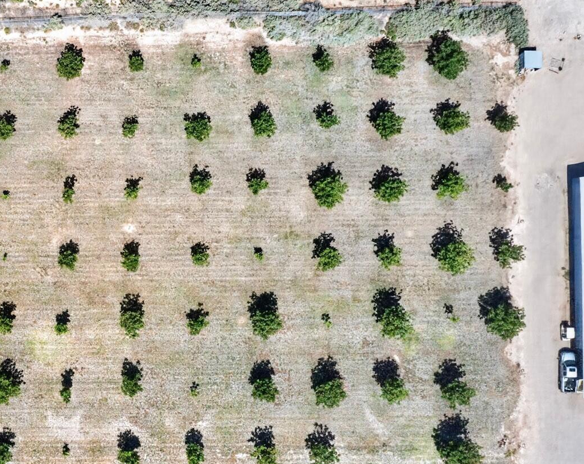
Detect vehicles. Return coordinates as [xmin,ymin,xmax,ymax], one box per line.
[557,349,579,394]
[559,321,576,340]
